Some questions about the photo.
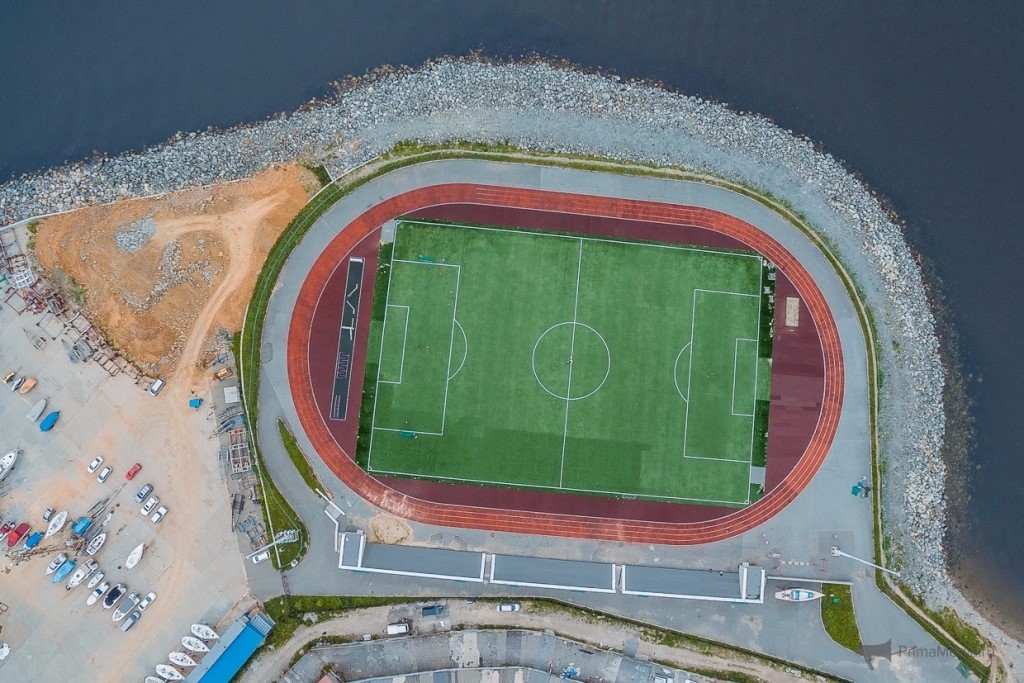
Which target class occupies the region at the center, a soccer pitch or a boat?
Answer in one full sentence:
There is a soccer pitch at the center.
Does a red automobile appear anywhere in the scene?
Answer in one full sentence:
Yes, the photo shows a red automobile.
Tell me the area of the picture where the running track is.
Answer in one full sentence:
The running track is located in the center region of the scene.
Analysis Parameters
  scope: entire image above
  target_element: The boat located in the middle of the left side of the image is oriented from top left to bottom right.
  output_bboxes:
[62,340,80,362]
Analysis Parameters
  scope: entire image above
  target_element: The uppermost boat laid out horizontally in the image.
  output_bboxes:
[774,588,826,602]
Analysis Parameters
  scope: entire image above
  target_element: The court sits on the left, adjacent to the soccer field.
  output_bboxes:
[330,258,365,420]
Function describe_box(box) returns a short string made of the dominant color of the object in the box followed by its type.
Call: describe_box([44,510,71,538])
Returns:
white boat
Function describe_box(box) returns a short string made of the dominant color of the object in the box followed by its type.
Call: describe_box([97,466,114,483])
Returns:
white car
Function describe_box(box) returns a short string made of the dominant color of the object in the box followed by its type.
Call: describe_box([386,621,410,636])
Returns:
white vehicle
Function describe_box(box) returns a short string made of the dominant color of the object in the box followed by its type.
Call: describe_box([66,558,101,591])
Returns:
white boat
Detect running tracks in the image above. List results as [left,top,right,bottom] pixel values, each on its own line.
[287,183,844,546]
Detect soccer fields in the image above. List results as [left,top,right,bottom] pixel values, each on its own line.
[355,217,776,509]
